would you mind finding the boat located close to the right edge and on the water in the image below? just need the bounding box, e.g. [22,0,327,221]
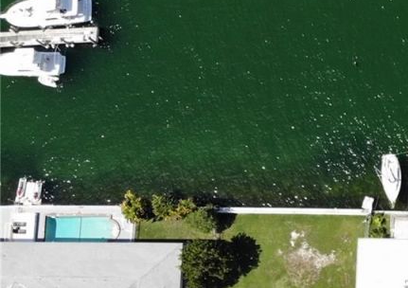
[374,155,401,210]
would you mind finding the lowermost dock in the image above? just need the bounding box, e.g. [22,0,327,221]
[15,178,44,206]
